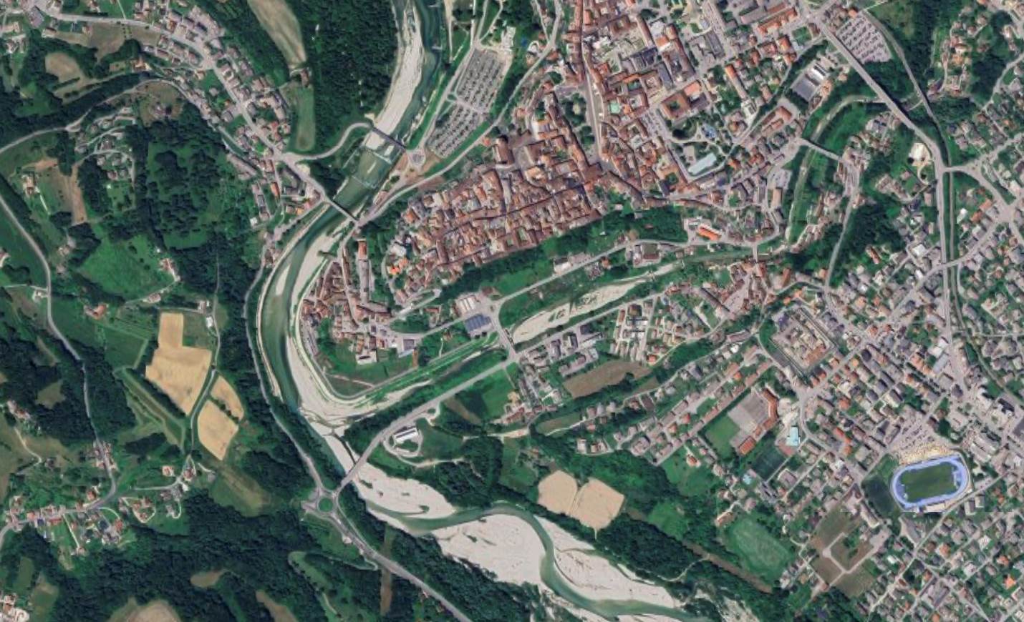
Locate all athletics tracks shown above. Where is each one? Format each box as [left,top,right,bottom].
[892,456,970,508]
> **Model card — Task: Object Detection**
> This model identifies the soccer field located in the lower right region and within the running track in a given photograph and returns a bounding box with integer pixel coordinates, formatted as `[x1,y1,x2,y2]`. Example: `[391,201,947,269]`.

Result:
[904,462,958,502]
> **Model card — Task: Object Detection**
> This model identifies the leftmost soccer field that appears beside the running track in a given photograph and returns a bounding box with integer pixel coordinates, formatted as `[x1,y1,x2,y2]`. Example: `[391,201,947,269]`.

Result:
[863,478,900,518]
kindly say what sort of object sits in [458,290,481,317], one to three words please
building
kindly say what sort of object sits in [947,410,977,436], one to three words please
building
